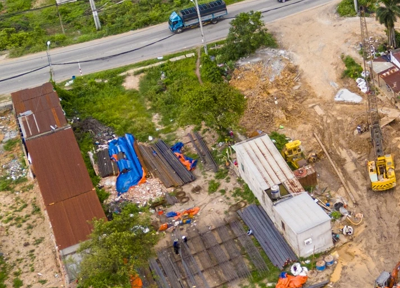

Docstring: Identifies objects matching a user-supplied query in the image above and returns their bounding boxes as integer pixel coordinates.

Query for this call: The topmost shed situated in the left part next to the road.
[12,81,71,162]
